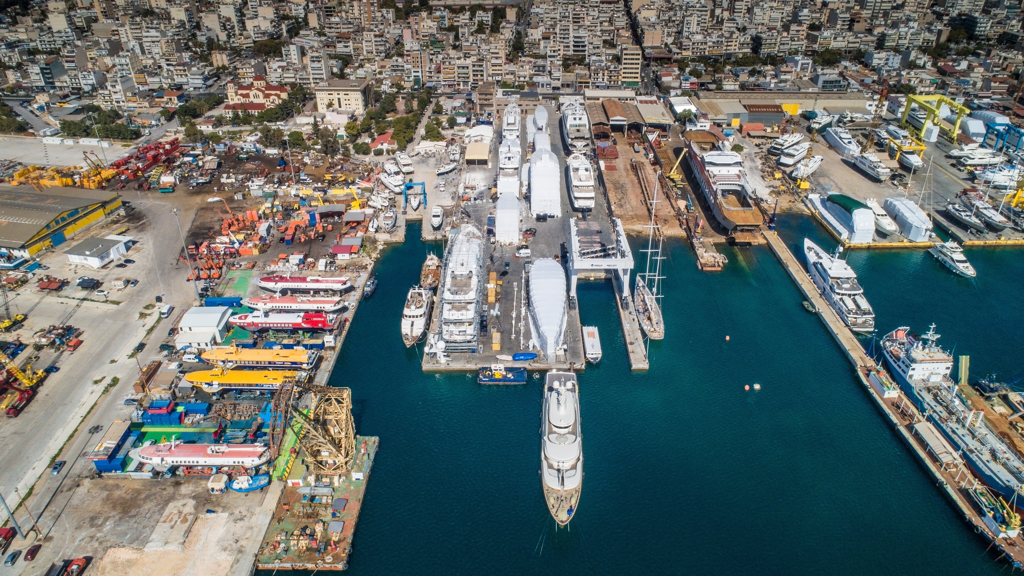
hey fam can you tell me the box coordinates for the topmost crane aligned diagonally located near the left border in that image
[0,327,54,384]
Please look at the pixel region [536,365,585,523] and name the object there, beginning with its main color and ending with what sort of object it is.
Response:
white boat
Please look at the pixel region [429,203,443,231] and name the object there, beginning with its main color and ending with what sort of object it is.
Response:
white boat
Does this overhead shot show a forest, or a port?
port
